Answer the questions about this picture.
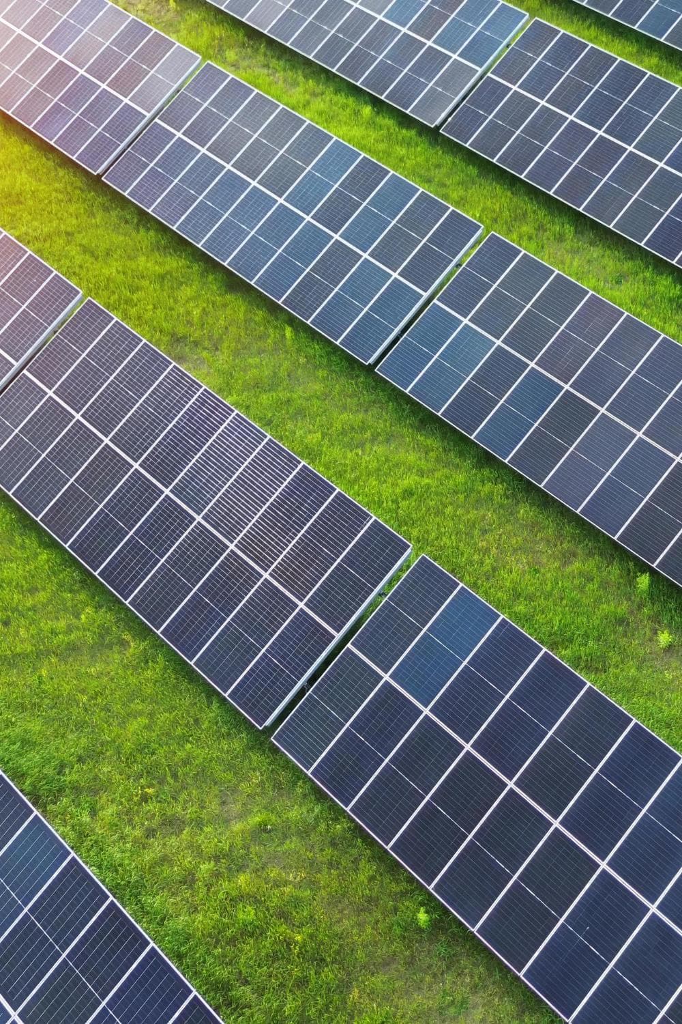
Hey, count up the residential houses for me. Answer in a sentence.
There are no residential houses in the image.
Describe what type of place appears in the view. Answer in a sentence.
What you see here is a solar farm.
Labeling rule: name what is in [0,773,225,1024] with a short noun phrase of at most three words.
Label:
solar array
